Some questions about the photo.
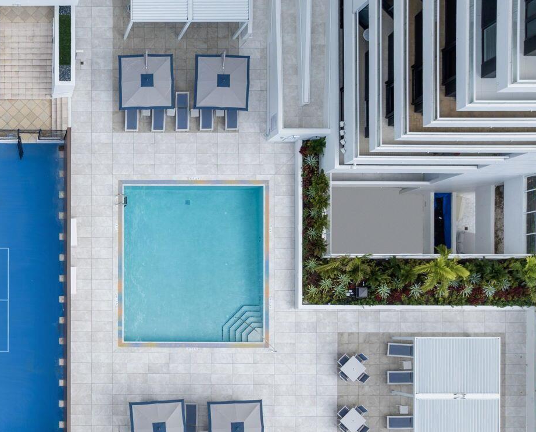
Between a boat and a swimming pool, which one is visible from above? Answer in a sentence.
The image shows a swimming pool.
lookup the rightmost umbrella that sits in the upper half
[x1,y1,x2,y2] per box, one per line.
[193,48,250,112]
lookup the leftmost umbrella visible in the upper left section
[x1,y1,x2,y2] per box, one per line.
[119,47,174,111]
